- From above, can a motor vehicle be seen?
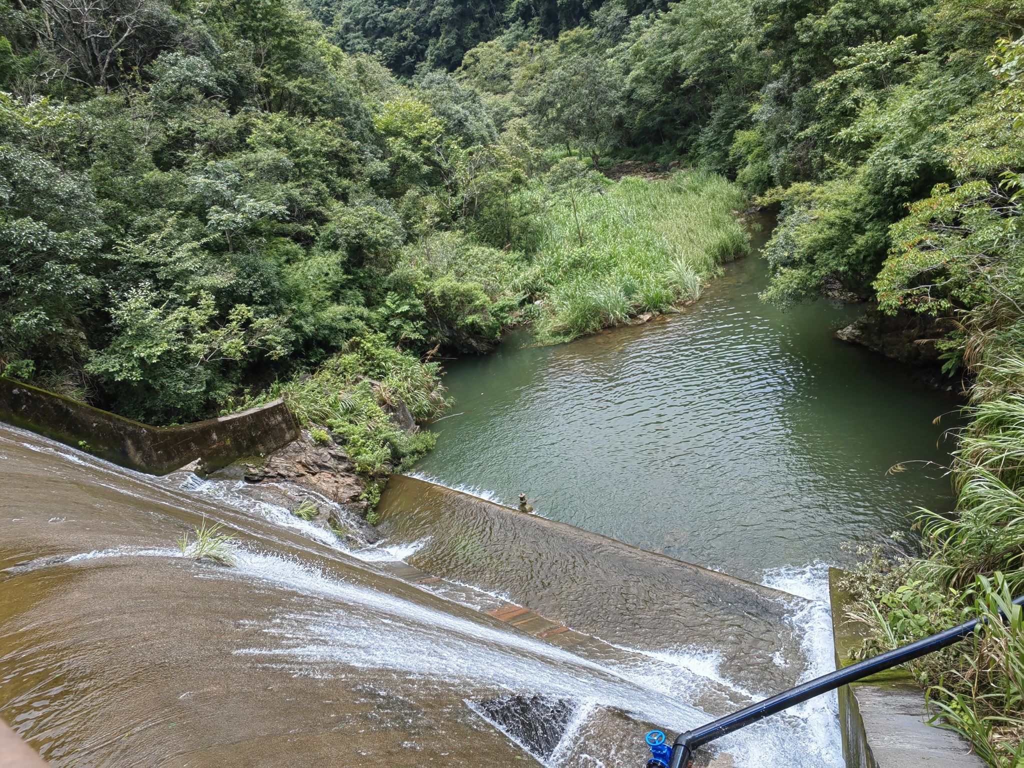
No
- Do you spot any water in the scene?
Yes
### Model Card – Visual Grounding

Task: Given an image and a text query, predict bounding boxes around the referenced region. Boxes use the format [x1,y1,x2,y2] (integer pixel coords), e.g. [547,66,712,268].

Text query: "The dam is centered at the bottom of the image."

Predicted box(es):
[303,529,846,768]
